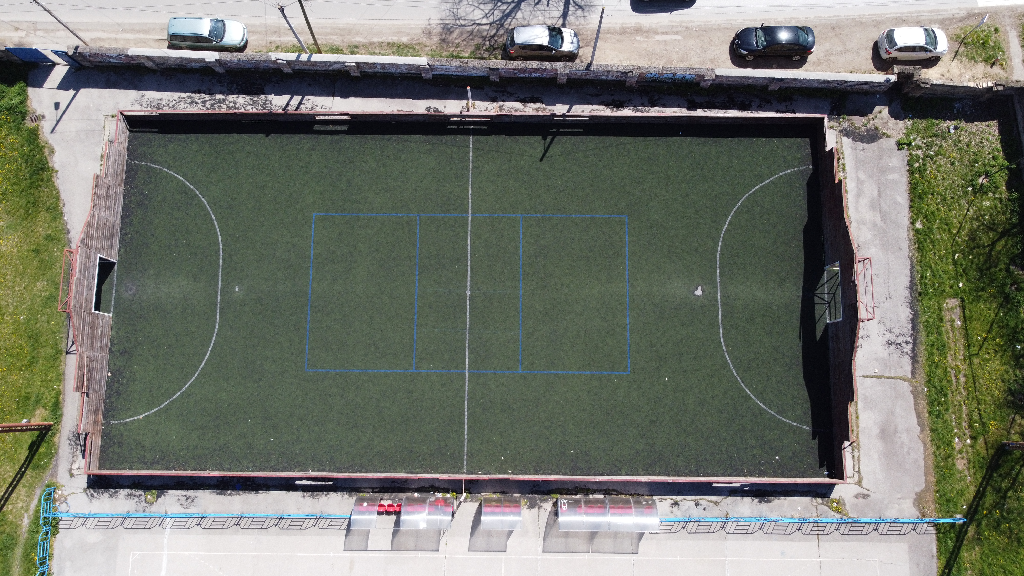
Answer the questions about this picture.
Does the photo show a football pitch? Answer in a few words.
Yes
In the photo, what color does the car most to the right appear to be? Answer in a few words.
white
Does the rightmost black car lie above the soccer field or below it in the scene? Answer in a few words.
above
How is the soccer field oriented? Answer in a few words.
from side to side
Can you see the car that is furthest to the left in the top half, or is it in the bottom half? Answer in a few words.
top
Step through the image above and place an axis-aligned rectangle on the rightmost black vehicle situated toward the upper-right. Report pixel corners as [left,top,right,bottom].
[733,21,816,61]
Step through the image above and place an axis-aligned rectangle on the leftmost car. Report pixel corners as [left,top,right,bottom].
[163,13,246,51]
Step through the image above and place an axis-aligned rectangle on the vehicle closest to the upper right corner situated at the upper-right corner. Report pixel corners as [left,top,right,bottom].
[876,22,947,61]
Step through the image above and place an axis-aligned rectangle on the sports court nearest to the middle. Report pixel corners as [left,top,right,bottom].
[306,214,629,373]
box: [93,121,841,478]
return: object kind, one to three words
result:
soccer field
